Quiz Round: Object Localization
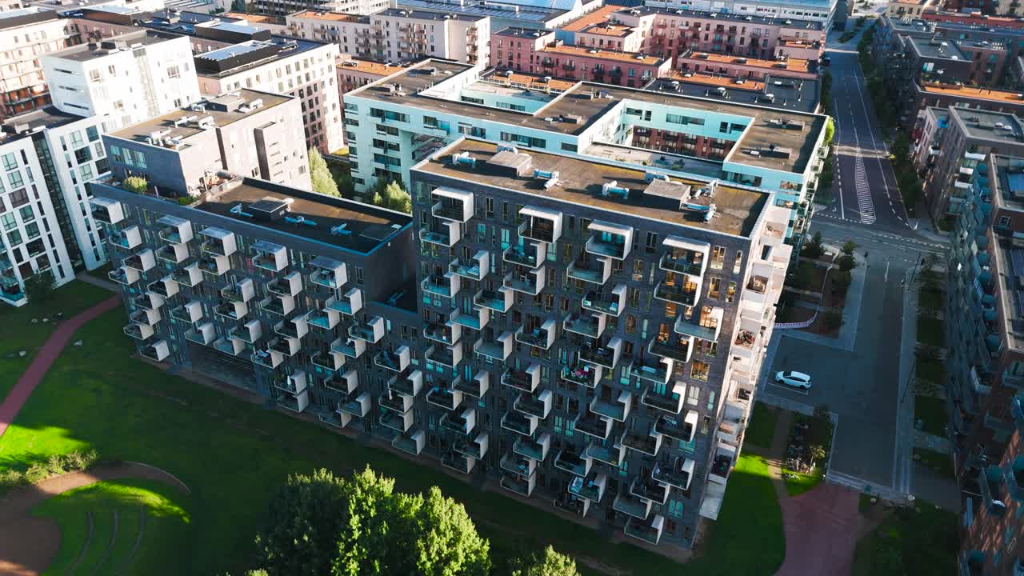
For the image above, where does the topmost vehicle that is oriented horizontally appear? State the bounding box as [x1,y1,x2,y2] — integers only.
[774,371,810,390]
